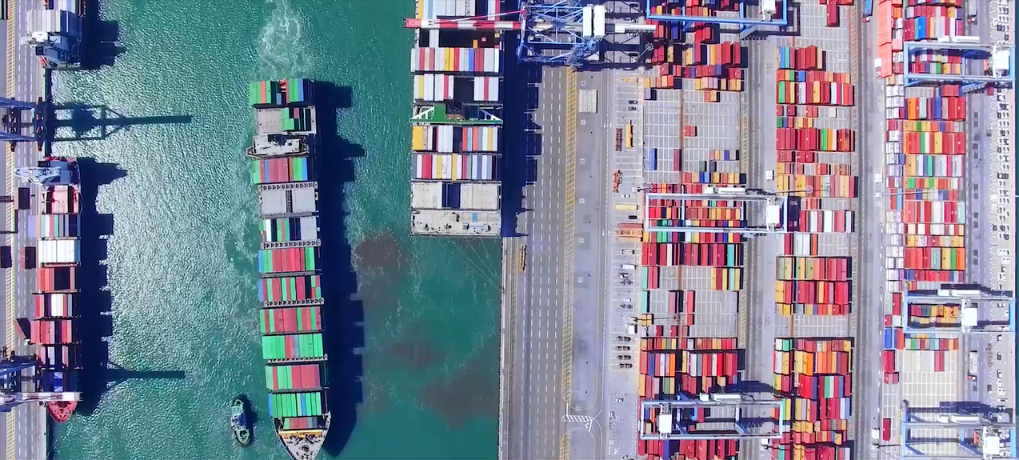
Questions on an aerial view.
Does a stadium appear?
No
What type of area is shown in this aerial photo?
port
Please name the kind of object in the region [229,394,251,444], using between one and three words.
boat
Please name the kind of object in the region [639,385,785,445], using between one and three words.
container crane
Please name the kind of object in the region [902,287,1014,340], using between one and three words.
container crane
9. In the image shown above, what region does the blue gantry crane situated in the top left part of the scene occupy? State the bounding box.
[0,96,41,144]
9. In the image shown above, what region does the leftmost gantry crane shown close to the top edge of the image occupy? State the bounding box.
[406,2,658,68]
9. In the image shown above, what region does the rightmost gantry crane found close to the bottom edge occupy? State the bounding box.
[900,406,1014,460]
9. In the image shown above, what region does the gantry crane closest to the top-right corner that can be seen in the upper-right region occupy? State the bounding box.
[903,37,1014,96]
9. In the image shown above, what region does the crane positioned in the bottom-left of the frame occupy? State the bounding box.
[0,352,81,406]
